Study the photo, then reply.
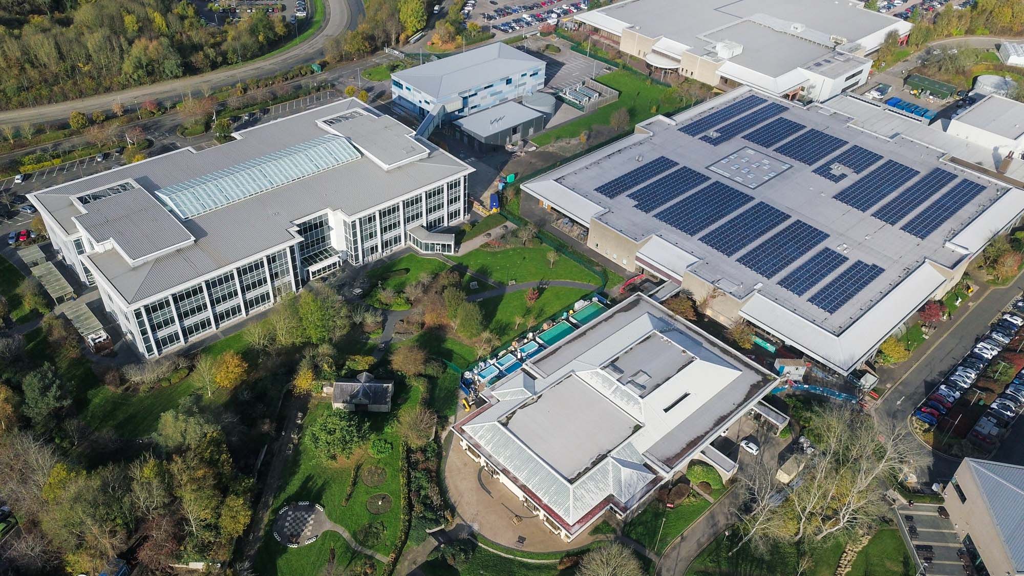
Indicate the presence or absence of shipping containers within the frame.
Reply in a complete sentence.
Yes, a shipping container can be made out from above.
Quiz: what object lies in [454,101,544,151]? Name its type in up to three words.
building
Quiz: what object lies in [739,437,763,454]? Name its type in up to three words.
car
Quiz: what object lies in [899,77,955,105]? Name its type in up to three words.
shed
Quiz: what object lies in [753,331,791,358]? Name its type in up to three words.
shipping container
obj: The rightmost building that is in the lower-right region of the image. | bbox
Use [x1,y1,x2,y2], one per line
[949,457,1024,576]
